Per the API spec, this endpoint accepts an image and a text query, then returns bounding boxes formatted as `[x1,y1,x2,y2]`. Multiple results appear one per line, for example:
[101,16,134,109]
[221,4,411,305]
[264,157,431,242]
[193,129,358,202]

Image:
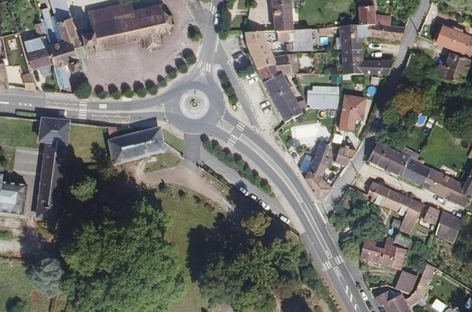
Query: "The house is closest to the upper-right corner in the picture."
[436,24,472,57]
